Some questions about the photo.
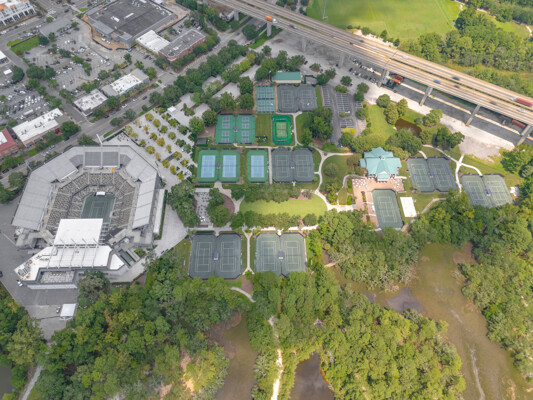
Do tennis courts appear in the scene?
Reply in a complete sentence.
Yes, I can see a tennis court in this picture.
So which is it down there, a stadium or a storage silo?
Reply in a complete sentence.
The image shows a stadium.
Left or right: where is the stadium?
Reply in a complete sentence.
It is on the left.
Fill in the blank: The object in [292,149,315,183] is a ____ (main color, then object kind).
gray tennis court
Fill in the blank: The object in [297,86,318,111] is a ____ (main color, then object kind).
gray tennis court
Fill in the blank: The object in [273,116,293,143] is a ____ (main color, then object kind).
green sports court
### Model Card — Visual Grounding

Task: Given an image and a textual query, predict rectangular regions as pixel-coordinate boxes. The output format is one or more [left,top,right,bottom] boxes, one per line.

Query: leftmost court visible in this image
[80,193,115,235]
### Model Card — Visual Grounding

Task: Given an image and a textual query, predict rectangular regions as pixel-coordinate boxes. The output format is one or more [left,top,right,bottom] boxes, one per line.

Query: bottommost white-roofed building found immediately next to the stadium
[13,218,130,289]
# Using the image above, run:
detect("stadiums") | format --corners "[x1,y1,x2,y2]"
[12,146,161,258]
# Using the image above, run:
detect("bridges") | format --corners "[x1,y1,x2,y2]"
[198,0,533,142]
